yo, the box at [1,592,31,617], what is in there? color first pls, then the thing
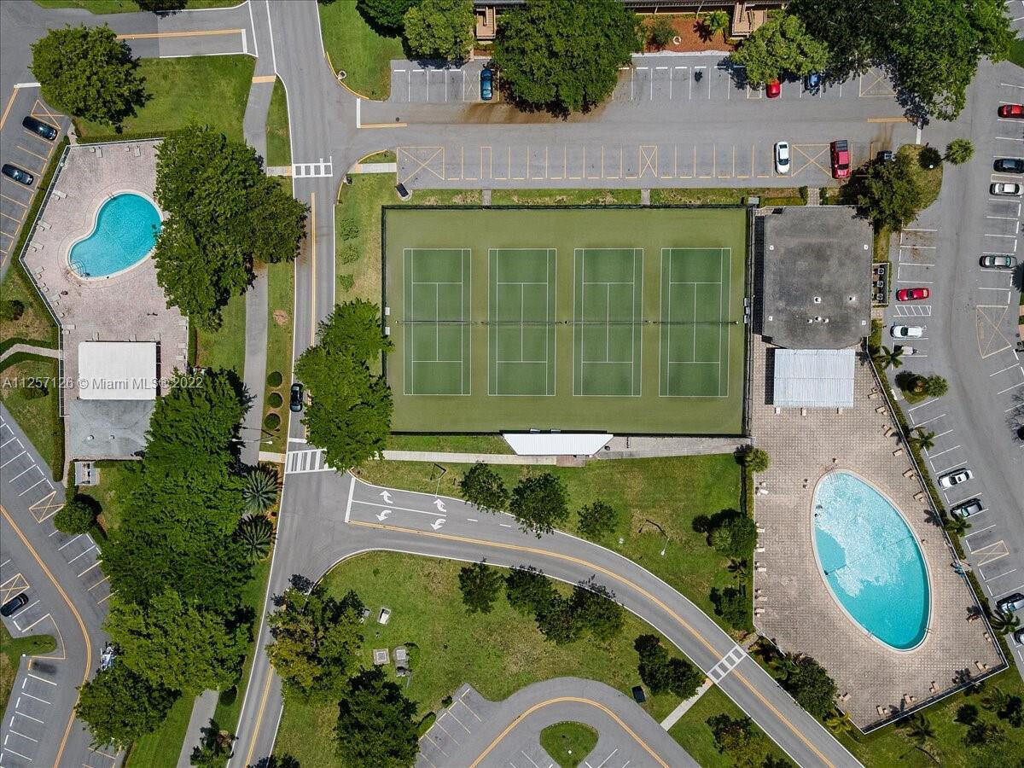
black car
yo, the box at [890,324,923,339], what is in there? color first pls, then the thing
white car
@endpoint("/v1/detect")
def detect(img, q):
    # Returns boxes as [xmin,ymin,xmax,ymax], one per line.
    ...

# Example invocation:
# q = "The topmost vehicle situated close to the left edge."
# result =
[23,117,58,140]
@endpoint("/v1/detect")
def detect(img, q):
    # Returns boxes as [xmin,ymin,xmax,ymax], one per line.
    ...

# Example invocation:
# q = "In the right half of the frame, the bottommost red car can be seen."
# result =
[896,287,930,302]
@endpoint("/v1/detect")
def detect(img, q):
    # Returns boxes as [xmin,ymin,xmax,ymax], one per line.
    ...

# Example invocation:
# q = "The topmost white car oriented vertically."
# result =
[774,143,789,174]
